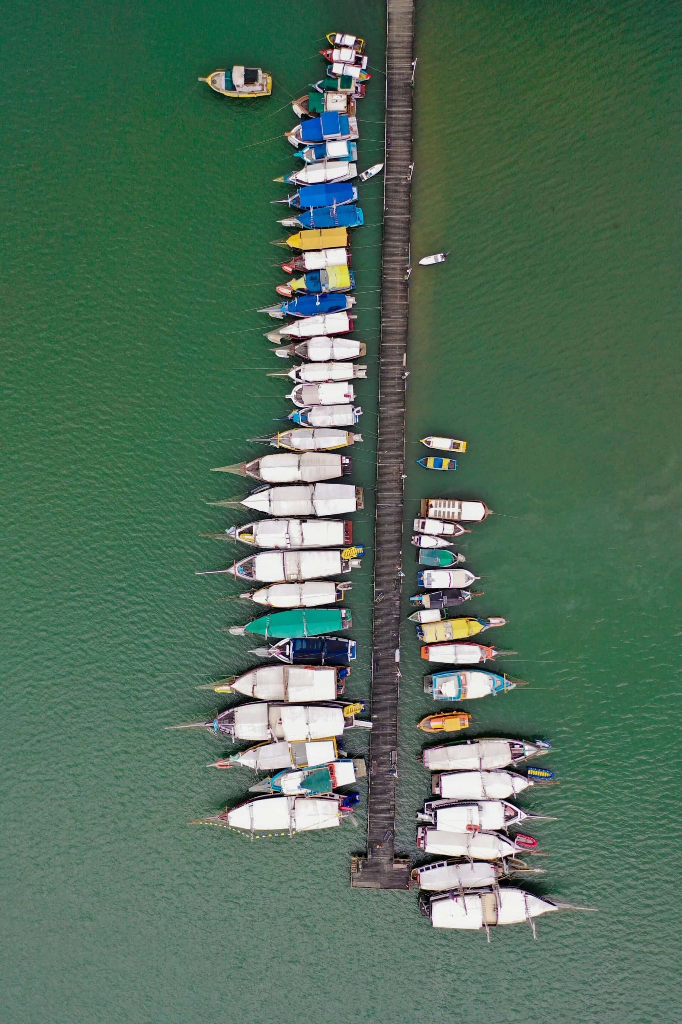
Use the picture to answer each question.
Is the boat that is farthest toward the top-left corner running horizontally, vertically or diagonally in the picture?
horizontally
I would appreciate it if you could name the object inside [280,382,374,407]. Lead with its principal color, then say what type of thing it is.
white boat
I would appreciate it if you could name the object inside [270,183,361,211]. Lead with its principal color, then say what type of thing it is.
blue boat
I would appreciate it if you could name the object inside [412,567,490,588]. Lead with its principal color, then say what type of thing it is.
white boat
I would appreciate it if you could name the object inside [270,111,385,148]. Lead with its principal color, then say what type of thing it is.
blue boat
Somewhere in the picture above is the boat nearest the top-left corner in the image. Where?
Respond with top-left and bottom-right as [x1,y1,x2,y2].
[193,67,271,100]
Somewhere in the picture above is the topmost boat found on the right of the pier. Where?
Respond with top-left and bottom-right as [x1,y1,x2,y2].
[418,251,450,266]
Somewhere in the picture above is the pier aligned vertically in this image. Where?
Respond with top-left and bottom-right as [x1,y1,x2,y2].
[351,0,415,890]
